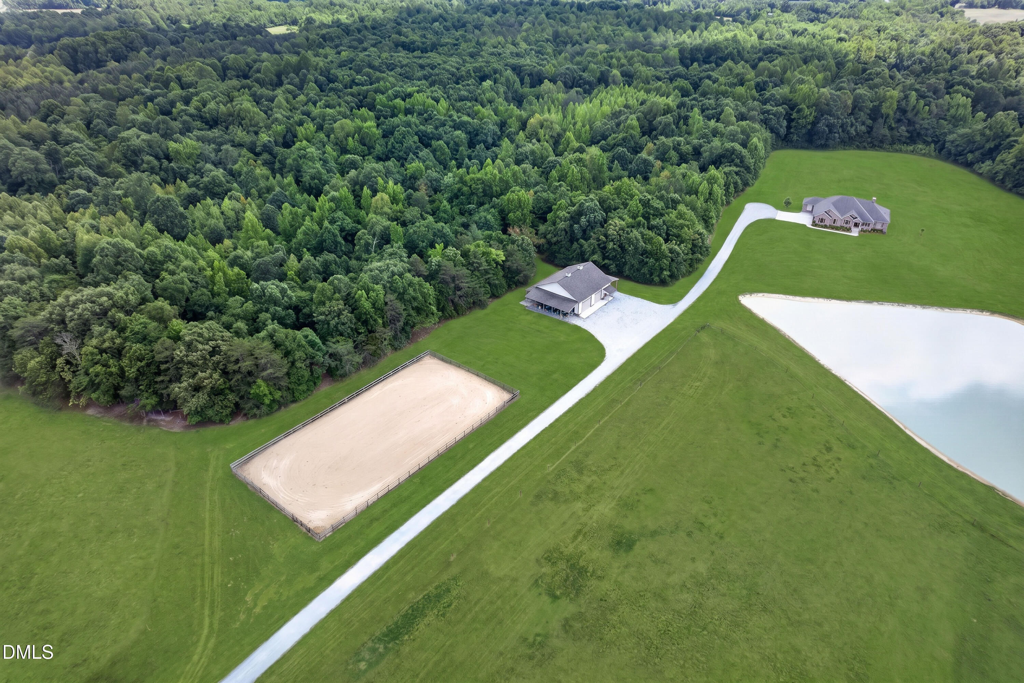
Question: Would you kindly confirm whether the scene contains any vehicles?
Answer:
No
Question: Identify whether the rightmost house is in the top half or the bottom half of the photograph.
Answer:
top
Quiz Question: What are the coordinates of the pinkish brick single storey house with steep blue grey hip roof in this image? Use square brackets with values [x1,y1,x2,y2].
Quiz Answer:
[802,196,891,233]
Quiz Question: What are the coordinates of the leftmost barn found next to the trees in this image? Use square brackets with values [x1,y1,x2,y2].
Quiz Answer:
[525,262,619,321]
